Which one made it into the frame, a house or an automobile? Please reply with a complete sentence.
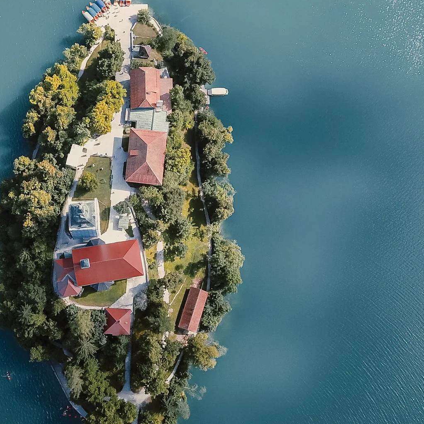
This aerial view contains a house.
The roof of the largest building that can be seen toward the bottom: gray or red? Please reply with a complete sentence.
The color of the roof of the largest building that can be seen toward the bottom is red.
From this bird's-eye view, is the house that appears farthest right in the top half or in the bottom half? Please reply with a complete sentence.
The house that appears farthest right is in the bottom half of the image.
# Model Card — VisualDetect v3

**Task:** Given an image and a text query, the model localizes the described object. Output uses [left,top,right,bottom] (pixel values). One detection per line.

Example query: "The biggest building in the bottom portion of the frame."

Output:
[54,238,143,297]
